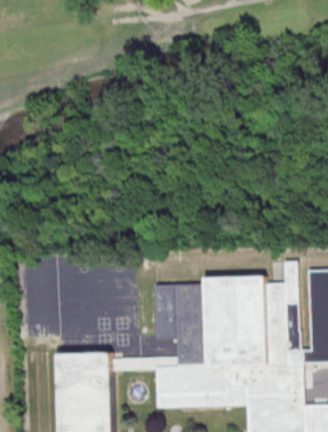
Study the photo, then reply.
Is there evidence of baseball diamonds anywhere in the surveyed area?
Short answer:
No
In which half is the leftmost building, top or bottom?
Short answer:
bottom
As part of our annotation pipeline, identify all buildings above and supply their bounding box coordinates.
[54,352,116,432]
[156,260,328,432]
